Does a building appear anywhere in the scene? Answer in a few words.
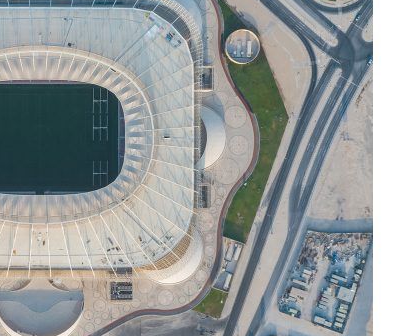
Yes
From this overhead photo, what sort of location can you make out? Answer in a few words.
sports ground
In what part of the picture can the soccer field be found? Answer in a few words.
left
